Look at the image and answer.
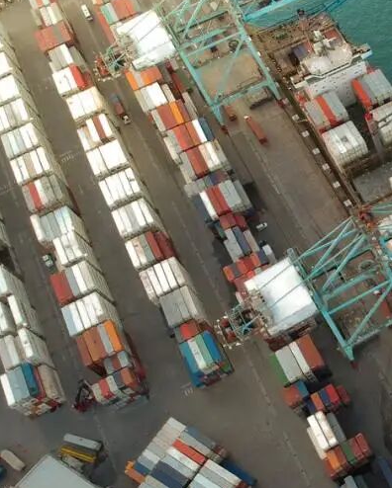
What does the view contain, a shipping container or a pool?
shipping container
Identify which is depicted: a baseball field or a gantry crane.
gantry crane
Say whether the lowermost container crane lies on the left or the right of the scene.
right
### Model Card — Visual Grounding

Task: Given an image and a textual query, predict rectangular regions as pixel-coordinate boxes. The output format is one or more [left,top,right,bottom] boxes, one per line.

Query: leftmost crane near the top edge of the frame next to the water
[93,0,301,135]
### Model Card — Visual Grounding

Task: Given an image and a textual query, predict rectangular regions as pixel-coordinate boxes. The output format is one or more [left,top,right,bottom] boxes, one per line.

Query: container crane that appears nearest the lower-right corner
[210,205,392,372]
